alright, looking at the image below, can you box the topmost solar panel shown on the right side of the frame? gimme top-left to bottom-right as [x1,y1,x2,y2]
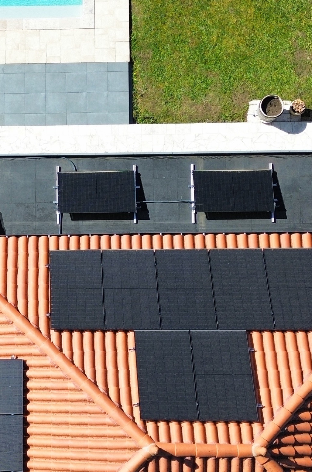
[189,164,278,223]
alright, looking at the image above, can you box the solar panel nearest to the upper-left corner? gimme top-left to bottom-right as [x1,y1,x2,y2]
[55,165,140,223]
